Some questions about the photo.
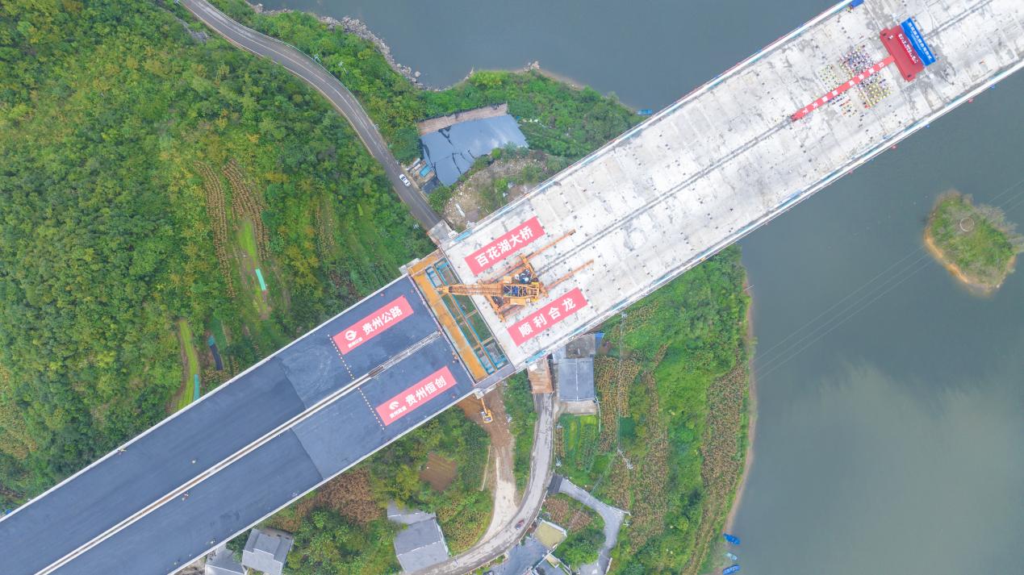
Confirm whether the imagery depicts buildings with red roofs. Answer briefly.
No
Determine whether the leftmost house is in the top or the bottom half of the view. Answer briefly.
bottom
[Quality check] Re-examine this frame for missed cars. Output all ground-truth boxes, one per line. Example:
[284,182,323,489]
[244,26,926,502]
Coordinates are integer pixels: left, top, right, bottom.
[397,173,410,187]
[513,518,526,533]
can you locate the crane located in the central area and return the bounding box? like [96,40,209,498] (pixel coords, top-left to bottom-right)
[430,248,551,322]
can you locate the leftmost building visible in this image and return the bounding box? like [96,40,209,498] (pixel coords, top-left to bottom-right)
[203,542,249,575]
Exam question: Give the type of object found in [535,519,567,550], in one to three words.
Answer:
house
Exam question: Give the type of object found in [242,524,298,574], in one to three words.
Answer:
house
